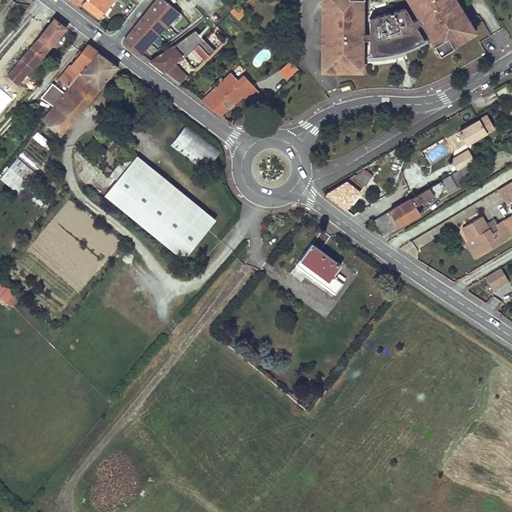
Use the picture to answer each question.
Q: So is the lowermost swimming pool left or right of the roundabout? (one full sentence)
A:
Relative to the roundabout, the lowermost swimming pool is on the right.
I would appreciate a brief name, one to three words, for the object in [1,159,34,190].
barn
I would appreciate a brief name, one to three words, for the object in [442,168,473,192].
shed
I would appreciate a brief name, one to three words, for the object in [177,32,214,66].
house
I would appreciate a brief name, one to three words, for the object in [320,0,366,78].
building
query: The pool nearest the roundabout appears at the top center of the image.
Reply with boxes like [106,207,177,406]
[254,50,270,67]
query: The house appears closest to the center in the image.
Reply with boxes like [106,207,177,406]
[291,246,346,293]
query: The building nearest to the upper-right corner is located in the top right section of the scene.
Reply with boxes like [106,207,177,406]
[404,0,479,62]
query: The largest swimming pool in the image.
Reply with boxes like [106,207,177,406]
[424,141,450,166]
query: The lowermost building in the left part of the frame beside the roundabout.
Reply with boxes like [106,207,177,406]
[105,157,216,260]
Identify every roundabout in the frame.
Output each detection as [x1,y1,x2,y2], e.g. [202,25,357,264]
[232,130,311,207]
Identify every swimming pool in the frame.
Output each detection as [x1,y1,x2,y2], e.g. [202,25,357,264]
[424,141,450,166]
[254,50,270,67]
